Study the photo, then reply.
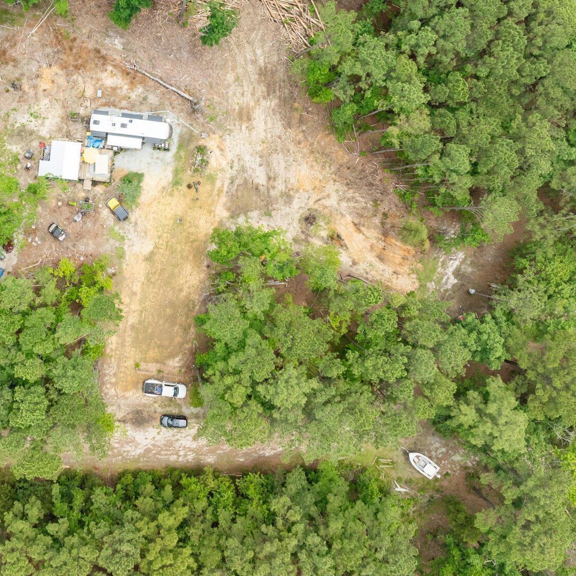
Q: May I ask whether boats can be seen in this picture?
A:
Yes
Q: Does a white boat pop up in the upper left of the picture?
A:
No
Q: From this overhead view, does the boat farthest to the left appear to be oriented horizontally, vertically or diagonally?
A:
diagonally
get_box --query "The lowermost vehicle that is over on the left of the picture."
[160,414,188,430]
